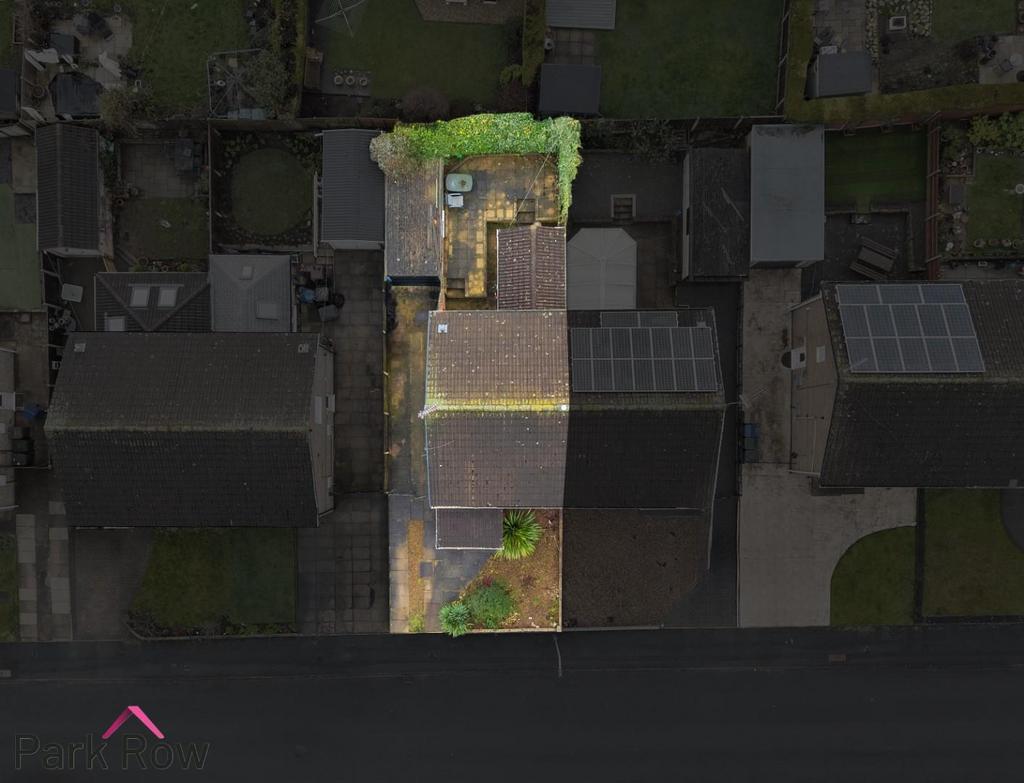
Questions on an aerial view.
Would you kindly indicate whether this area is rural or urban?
urban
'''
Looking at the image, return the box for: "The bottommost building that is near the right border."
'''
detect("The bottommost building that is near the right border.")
[791,278,1024,492]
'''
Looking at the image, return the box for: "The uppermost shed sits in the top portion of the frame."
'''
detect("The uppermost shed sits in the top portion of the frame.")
[547,0,616,32]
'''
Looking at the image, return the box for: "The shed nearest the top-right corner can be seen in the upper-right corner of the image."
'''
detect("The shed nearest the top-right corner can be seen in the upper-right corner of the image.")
[809,53,872,102]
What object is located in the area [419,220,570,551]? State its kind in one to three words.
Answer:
house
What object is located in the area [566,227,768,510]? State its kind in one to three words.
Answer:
house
